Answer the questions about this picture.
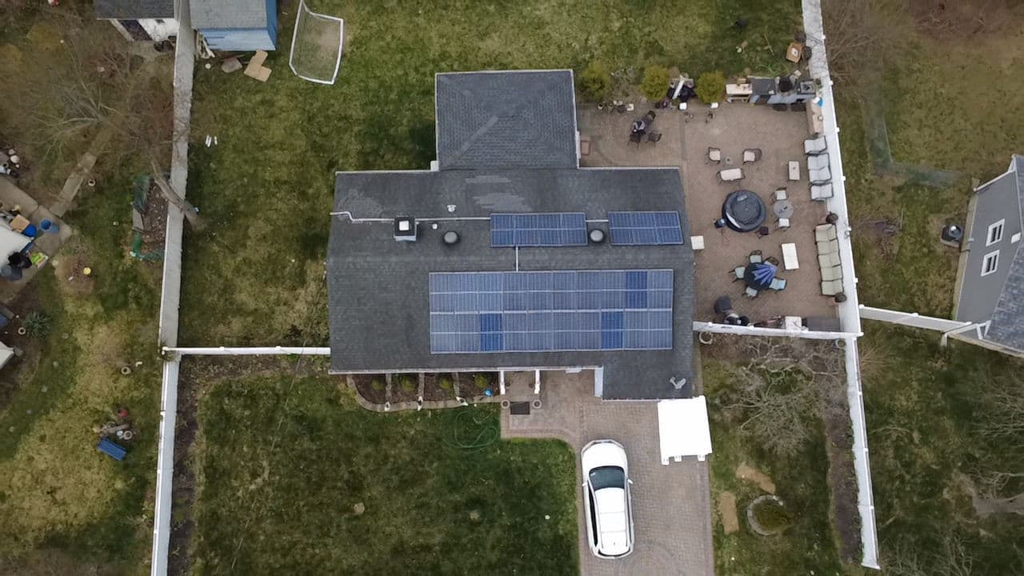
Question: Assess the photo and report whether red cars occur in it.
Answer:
No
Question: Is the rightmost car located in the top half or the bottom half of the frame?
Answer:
bottom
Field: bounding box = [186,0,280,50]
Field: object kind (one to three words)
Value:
shed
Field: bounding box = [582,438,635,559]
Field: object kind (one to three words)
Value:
car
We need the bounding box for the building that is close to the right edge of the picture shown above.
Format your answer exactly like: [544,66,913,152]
[948,160,1024,347]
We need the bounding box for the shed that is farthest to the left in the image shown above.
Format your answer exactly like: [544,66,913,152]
[96,0,176,42]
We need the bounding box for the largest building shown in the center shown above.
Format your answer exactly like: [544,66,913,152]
[326,68,693,402]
